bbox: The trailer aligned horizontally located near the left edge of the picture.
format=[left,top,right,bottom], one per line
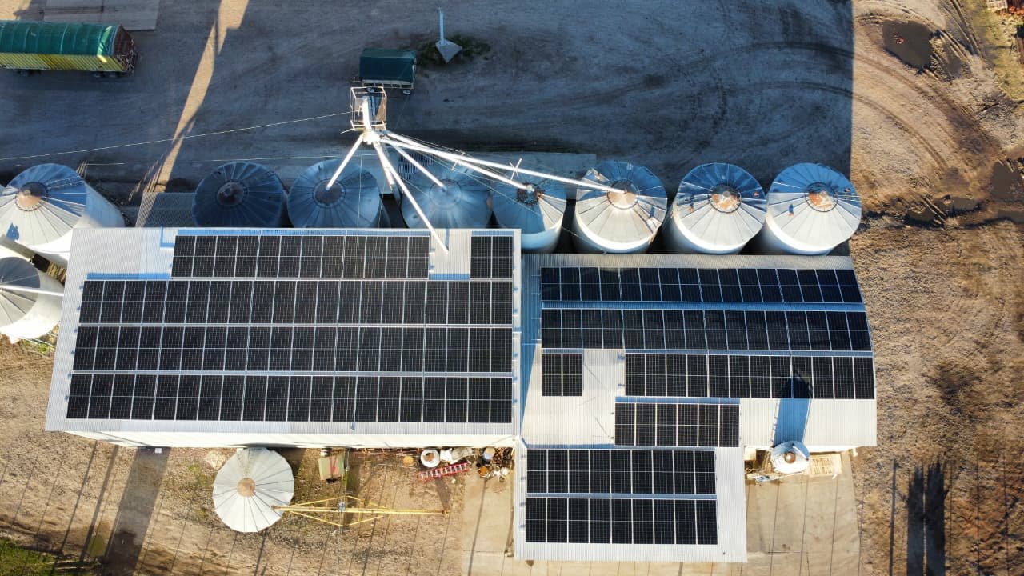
[0,19,140,80]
